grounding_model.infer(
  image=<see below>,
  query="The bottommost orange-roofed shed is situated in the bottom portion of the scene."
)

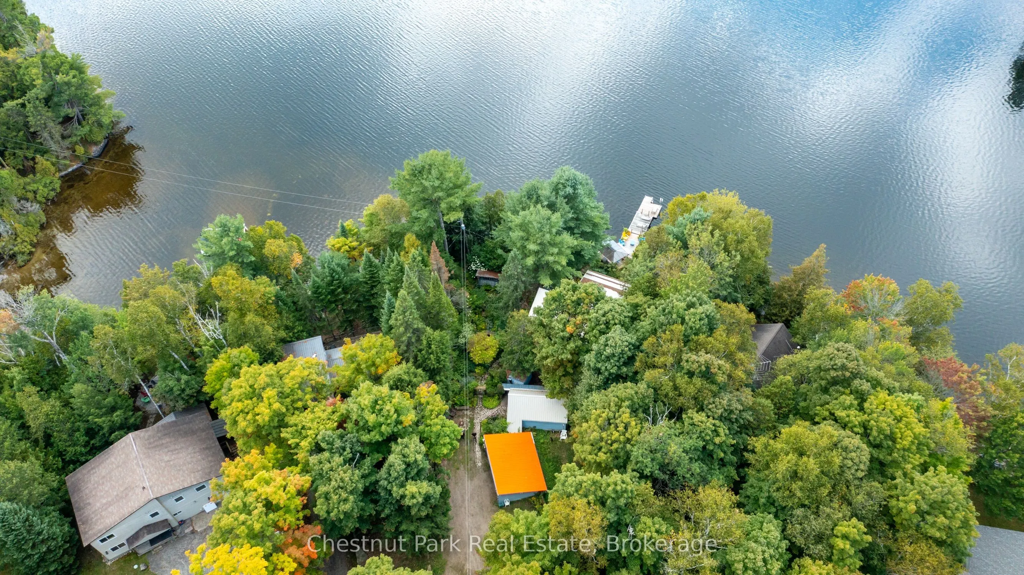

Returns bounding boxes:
[484,431,547,502]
